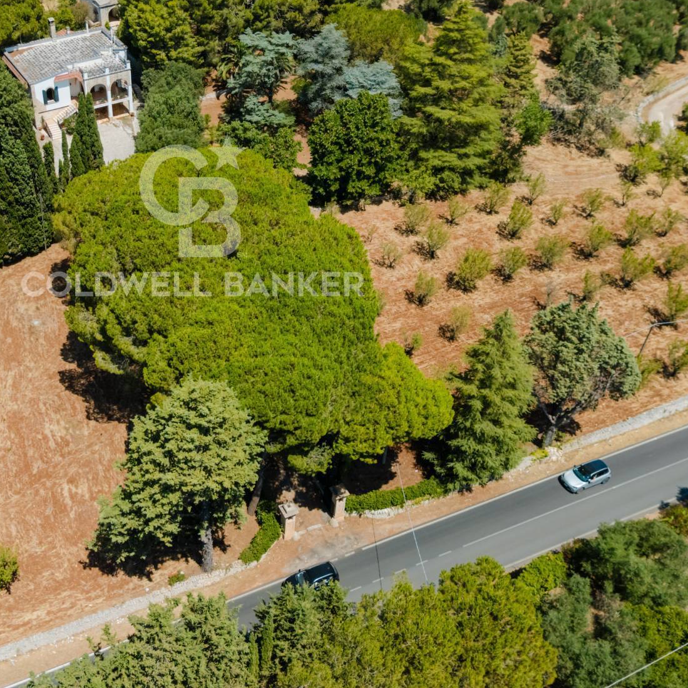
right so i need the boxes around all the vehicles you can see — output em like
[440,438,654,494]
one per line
[277,559,342,598]
[558,458,615,494]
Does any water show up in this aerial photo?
No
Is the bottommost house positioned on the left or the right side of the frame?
left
